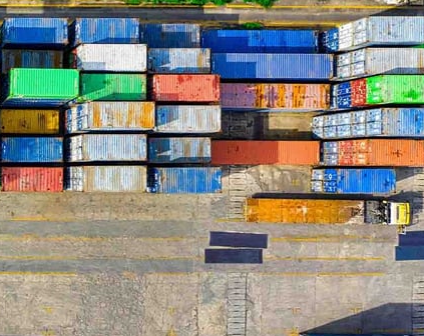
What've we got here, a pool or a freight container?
freight container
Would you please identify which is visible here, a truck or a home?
truck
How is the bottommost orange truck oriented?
from left to right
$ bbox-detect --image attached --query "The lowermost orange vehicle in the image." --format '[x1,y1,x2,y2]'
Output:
[243,198,409,231]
